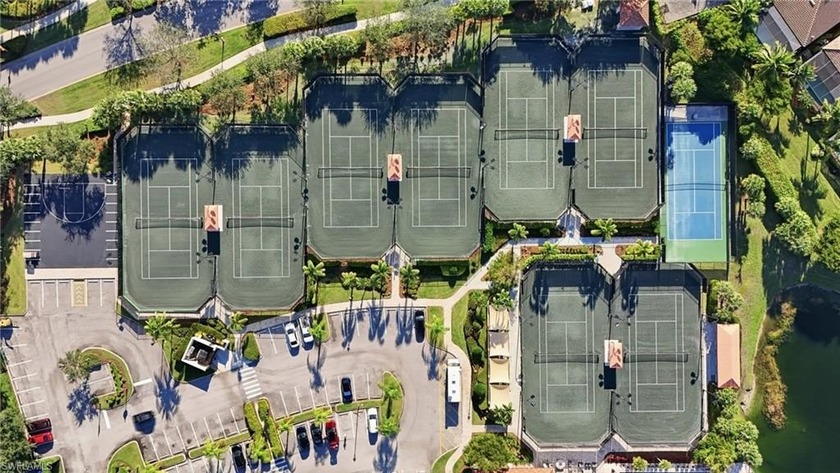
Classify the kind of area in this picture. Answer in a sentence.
It's a sports ground.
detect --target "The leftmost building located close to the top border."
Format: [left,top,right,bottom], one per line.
[616,0,650,31]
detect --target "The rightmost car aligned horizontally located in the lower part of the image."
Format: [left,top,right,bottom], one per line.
[132,408,156,422]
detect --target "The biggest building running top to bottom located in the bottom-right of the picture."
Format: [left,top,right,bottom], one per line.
[713,320,740,388]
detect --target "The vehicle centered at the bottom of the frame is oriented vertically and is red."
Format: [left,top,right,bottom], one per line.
[326,419,339,448]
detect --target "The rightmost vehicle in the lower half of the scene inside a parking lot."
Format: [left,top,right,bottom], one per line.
[445,357,463,403]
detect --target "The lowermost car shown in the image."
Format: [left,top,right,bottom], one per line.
[232,444,247,470]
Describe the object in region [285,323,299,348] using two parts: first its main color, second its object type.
white vehicle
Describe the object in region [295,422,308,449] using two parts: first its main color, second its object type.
black vehicle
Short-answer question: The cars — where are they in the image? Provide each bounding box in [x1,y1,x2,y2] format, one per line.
[326,419,339,448]
[29,431,54,444]
[285,323,299,348]
[27,417,52,430]
[295,422,308,449]
[232,444,247,470]
[299,314,314,342]
[132,408,156,422]
[414,310,426,334]
[310,419,323,444]
[341,376,353,402]
[367,407,377,432]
